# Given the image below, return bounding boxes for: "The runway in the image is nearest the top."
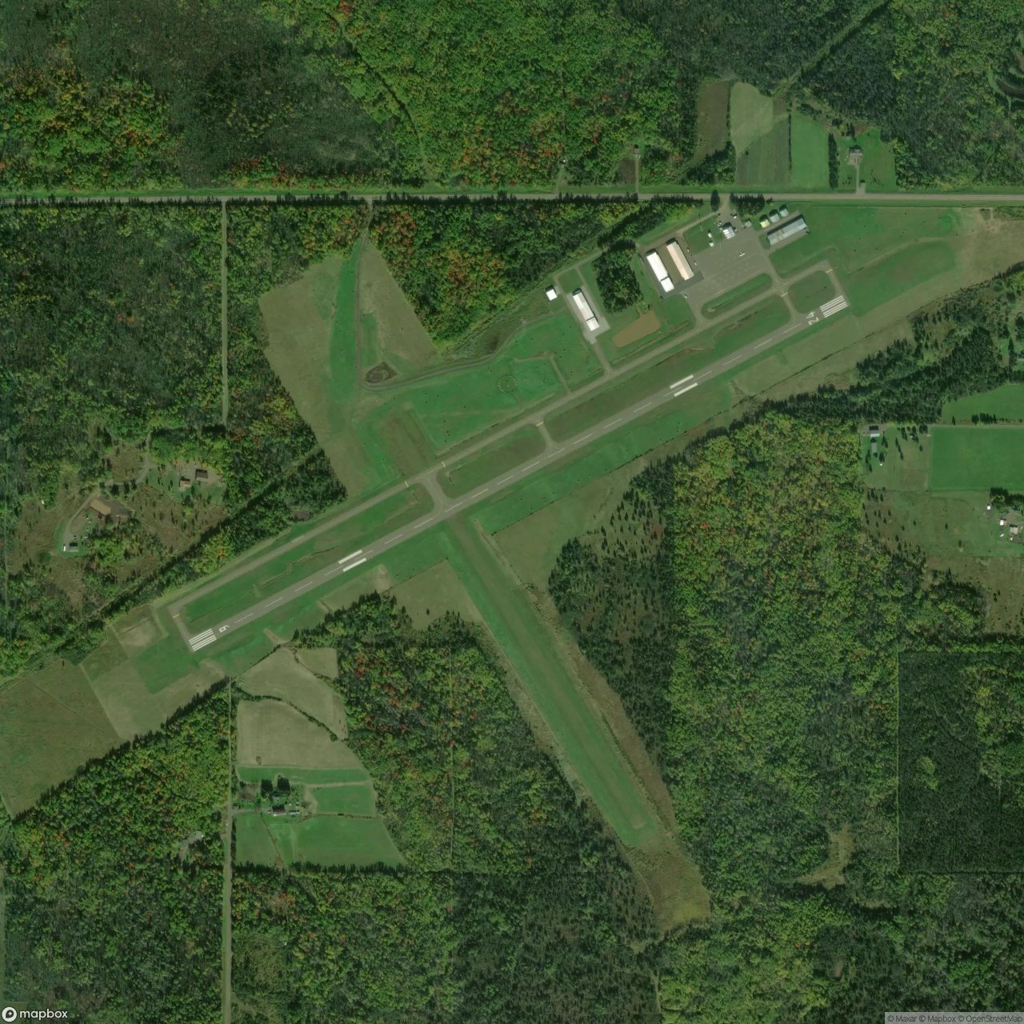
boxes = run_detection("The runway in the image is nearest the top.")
[186,294,850,653]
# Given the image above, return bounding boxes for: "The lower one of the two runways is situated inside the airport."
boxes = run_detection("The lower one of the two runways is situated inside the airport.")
[439,506,657,848]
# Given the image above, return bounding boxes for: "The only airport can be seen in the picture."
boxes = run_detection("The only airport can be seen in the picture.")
[166,199,850,848]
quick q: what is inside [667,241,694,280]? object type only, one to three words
hangar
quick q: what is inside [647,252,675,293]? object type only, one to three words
hangar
